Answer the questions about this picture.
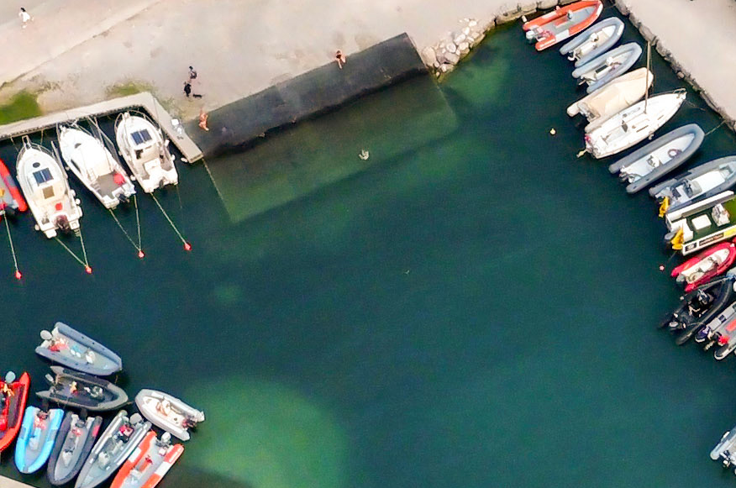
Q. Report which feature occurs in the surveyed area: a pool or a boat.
boat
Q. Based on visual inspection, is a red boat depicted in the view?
Yes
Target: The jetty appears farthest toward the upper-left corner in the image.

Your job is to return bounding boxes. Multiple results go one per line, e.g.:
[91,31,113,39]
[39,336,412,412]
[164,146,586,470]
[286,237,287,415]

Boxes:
[0,94,206,170]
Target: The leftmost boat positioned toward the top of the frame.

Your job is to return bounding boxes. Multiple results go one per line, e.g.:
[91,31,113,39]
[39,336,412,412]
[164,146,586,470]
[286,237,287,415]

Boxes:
[0,154,27,217]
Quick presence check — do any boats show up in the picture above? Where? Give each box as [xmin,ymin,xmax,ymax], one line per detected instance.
[581,50,687,160]
[18,136,84,238]
[47,413,102,484]
[0,372,28,451]
[118,108,179,196]
[695,302,736,360]
[522,0,605,50]
[559,18,625,66]
[658,273,736,344]
[568,70,654,133]
[711,421,736,473]
[74,411,151,488]
[651,154,736,213]
[111,433,181,488]
[19,404,64,474]
[671,242,736,292]
[572,42,643,92]
[59,121,141,212]
[134,390,205,438]
[657,193,736,256]
[610,125,707,194]
[38,322,122,374]
[40,365,128,408]
[0,154,27,217]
